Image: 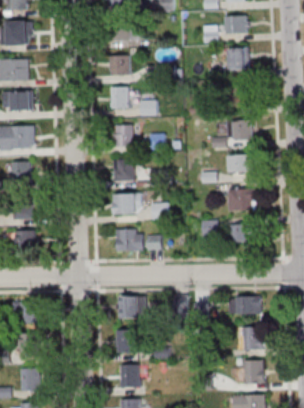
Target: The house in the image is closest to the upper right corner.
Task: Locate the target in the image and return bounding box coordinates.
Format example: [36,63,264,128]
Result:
[224,16,252,34]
